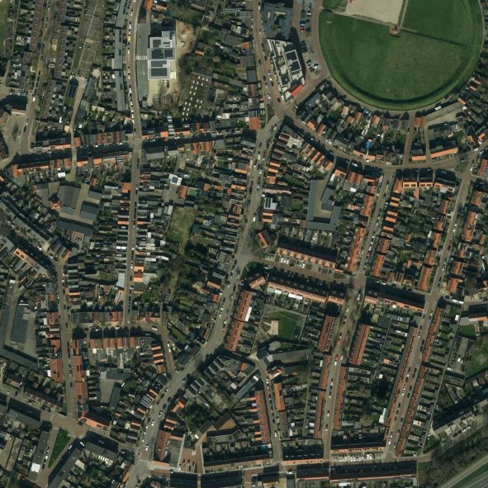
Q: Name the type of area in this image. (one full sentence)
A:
What you see here is a residential area.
